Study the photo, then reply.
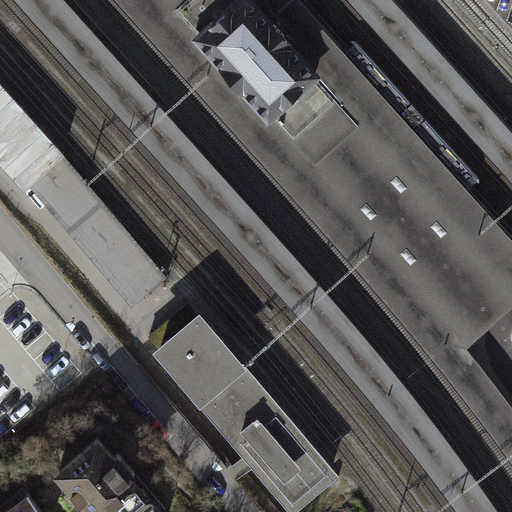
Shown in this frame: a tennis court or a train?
train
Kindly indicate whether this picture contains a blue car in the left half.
Yes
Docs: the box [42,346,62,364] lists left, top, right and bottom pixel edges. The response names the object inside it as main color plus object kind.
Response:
blue car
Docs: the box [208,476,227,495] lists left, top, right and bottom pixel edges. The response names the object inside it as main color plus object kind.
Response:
blue car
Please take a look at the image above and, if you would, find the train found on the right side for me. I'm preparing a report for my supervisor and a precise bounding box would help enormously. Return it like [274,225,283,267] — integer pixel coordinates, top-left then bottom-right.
[346,40,477,186]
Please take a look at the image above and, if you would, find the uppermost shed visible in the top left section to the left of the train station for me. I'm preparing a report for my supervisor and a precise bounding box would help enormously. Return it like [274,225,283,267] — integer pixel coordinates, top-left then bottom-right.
[0,82,64,192]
